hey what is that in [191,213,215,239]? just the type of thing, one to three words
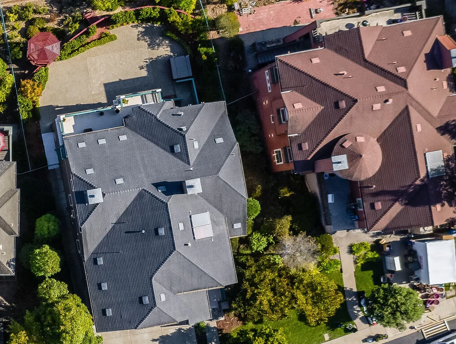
solar panel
